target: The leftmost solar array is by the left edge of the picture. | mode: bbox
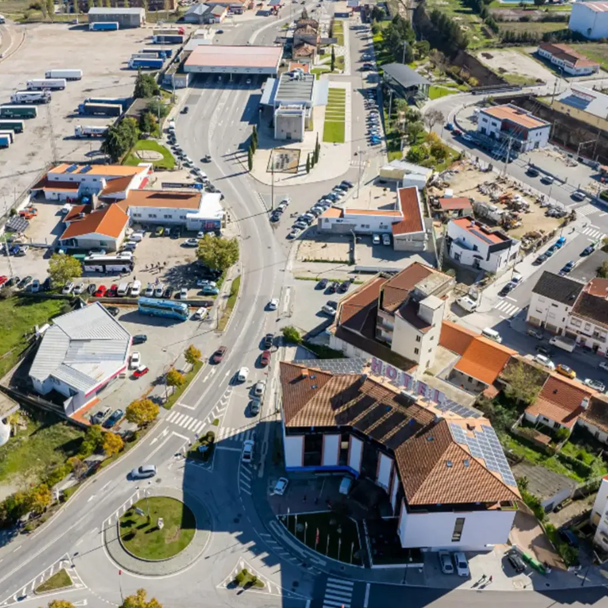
[4,215,32,237]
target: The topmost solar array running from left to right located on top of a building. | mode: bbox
[297,357,369,371]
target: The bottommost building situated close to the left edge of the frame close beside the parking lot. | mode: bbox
[29,302,133,413]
